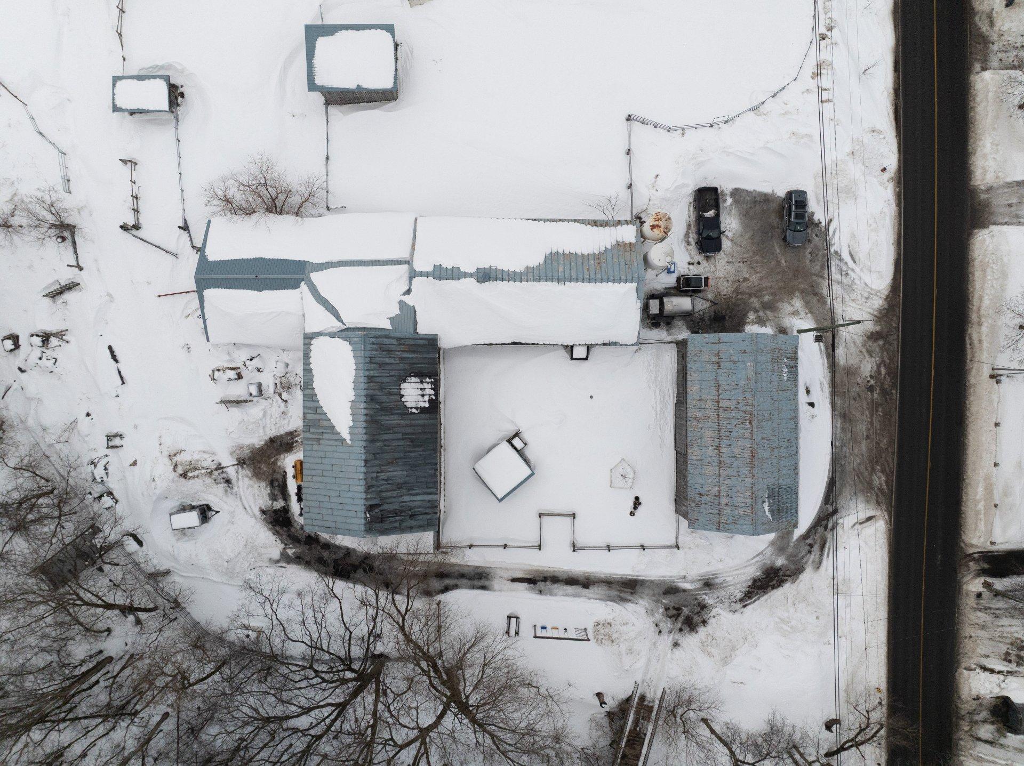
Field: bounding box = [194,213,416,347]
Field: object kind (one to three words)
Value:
barn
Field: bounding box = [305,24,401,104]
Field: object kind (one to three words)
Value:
shed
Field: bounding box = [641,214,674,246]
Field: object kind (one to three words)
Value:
storage tank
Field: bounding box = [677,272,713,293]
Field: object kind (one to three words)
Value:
work vehicle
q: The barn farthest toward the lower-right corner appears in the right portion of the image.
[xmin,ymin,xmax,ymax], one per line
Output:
[676,333,799,535]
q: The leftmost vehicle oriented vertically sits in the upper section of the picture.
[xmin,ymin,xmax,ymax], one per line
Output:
[695,183,728,255]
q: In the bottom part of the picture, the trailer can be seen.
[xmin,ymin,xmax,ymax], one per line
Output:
[159,502,221,537]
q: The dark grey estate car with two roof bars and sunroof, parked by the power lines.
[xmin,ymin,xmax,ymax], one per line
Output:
[786,186,815,245]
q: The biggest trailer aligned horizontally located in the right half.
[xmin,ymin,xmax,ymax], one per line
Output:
[648,291,720,322]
